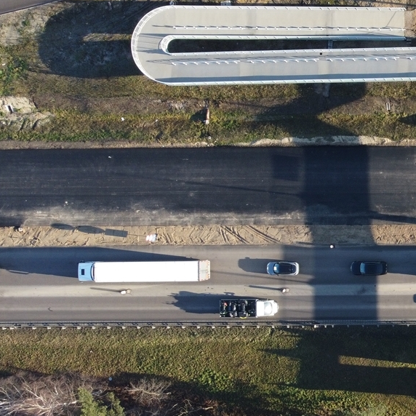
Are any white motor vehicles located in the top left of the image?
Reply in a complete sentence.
No, there's no white motor vehicle to be seen in the top left of the image.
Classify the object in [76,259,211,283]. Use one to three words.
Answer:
truck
